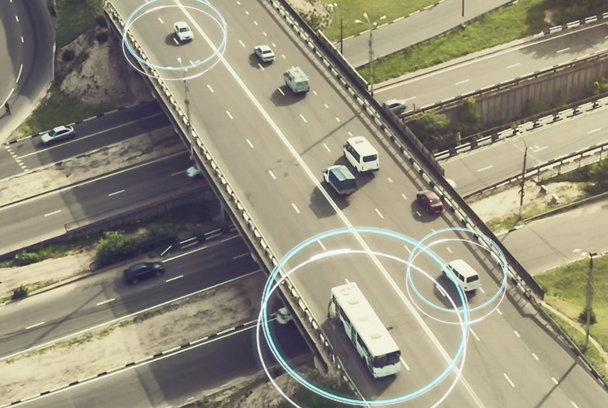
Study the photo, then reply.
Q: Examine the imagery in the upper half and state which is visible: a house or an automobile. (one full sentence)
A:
Visible in the upper half is an automobile.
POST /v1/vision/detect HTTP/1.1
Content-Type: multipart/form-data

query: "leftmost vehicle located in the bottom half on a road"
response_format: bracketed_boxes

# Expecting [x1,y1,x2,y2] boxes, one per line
[122,261,166,285]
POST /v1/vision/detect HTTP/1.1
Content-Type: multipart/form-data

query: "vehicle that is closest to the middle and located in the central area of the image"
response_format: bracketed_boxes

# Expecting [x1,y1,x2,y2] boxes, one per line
[323,165,359,197]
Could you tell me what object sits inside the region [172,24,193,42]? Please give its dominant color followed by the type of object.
white car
